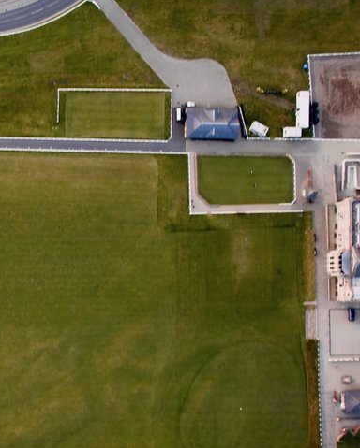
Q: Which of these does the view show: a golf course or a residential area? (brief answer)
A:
golf course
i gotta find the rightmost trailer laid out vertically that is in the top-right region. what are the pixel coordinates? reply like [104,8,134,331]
[290,90,310,131]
